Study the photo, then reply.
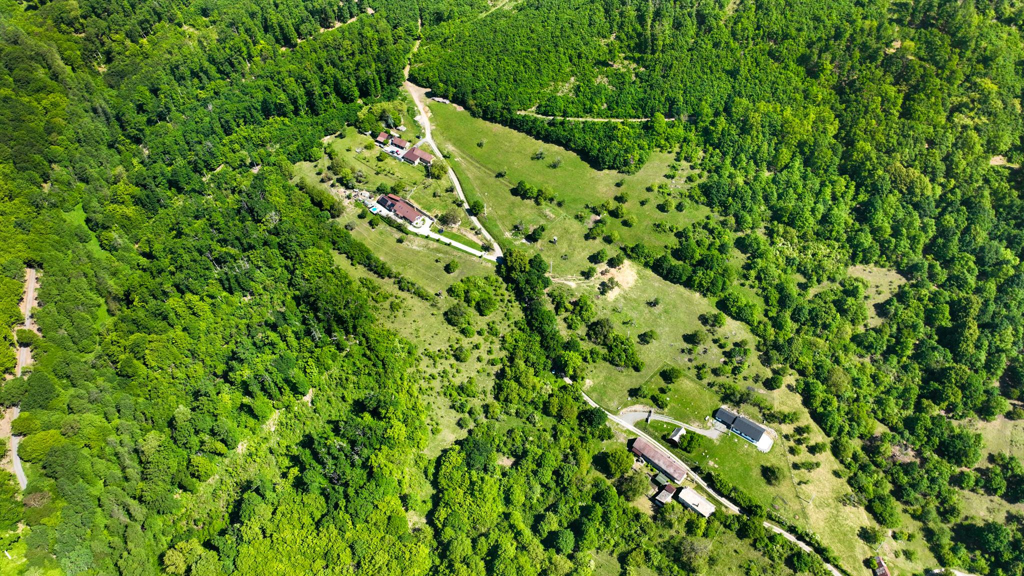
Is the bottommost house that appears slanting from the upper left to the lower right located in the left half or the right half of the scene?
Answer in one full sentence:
You can find the bottommost house that appears slanting from the upper left to the lower right on the right side of the picture.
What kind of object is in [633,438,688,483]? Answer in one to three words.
house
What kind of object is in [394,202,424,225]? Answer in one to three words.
building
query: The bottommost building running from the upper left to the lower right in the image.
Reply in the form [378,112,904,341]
[679,487,714,520]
